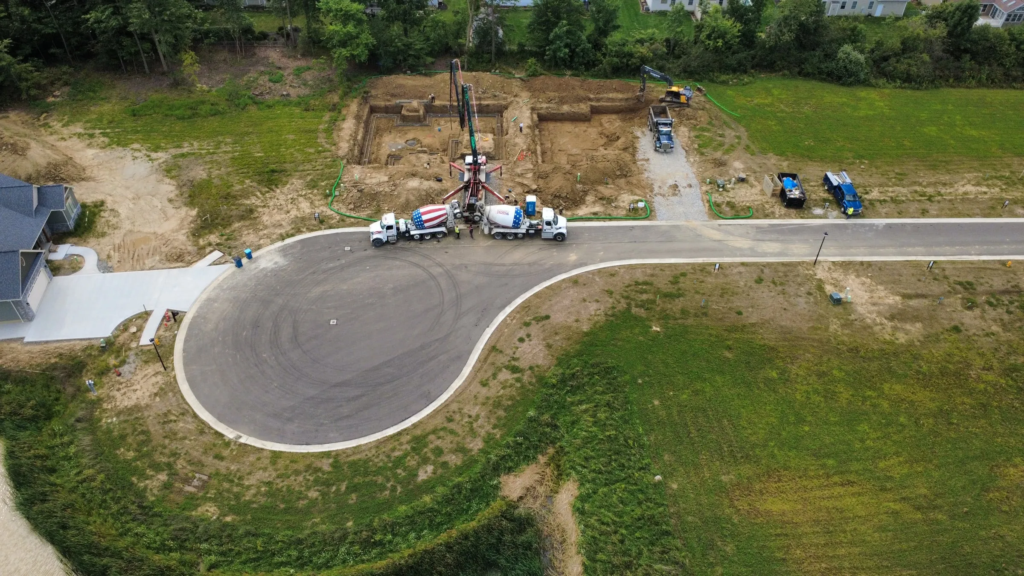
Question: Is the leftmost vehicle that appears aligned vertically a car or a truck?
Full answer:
It turns out the leftmost vehicle that appears aligned vertically is a truck.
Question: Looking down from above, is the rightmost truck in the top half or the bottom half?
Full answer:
The rightmost truck sits in the top half of the picture.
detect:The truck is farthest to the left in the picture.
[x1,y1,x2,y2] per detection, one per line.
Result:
[367,200,462,247]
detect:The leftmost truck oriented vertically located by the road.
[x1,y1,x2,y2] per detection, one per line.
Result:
[442,59,507,216]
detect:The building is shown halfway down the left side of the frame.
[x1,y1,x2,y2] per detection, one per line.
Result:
[0,173,81,324]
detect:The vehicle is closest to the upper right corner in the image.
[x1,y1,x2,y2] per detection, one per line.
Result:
[827,167,864,211]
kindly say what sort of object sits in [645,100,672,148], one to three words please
truck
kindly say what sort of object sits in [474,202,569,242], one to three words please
truck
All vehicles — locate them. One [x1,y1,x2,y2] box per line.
[645,100,672,148]
[474,202,569,242]
[442,59,507,216]
[827,167,864,211]
[635,65,695,108]
[367,200,462,247]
